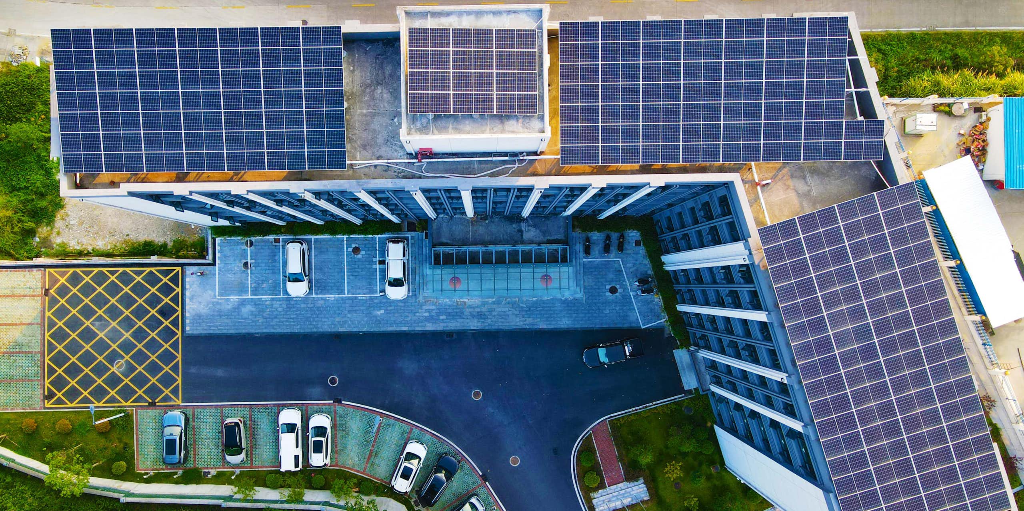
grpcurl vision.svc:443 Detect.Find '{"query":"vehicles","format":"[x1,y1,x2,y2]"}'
[389,440,430,499]
[275,406,305,475]
[584,236,594,256]
[284,239,312,297]
[618,232,626,252]
[383,238,410,301]
[161,408,193,468]
[416,452,462,511]
[221,415,249,465]
[634,276,654,286]
[605,234,615,254]
[582,336,644,370]
[305,411,334,470]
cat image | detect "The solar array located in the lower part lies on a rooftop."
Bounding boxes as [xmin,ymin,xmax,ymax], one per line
[757,182,1012,511]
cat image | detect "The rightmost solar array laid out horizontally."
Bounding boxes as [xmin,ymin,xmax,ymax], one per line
[557,17,883,165]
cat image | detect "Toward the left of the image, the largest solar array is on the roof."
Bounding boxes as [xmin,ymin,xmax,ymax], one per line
[51,27,348,173]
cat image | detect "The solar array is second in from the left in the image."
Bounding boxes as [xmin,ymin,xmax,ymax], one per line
[407,27,538,115]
